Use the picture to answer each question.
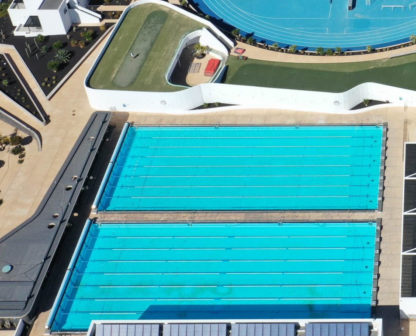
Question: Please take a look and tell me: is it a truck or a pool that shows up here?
pool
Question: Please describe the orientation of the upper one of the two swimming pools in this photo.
from left to right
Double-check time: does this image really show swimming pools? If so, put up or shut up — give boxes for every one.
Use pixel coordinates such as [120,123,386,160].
[40,216,382,334]
[88,119,389,214]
